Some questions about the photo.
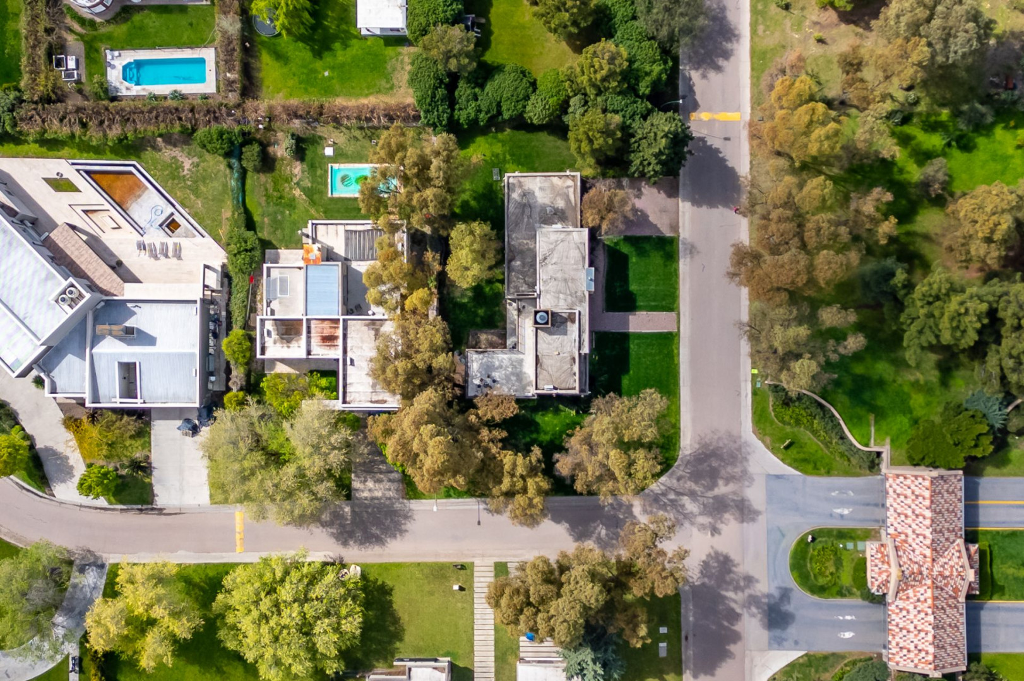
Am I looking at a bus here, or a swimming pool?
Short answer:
swimming pool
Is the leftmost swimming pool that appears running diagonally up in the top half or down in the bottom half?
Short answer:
top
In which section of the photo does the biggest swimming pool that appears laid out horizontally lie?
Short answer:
top left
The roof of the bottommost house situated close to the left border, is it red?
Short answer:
No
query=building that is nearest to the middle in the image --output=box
[466,169,594,398]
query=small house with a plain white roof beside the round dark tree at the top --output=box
[357,0,409,42]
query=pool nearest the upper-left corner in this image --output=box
[106,48,216,96]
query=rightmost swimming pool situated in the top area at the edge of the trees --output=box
[329,164,394,197]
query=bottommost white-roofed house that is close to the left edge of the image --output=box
[0,176,211,407]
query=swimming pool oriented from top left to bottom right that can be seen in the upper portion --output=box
[67,159,212,240]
